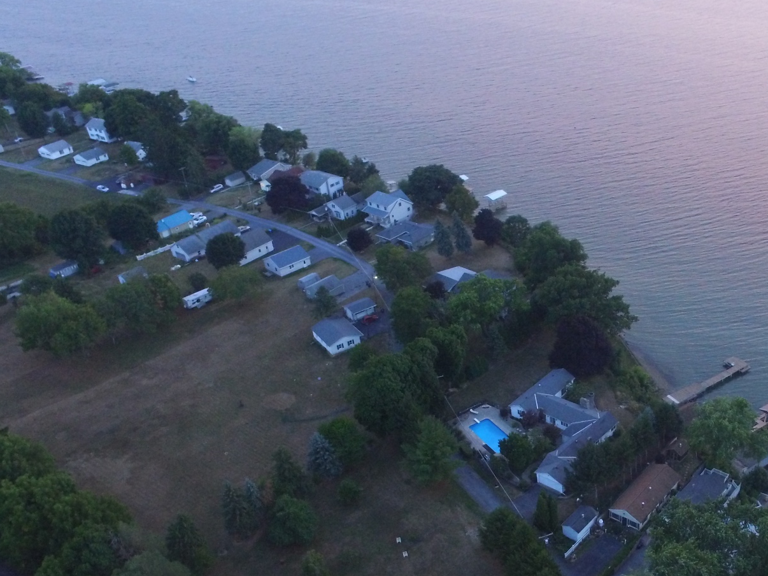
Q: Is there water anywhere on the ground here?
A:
Yes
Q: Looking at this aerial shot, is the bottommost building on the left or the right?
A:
right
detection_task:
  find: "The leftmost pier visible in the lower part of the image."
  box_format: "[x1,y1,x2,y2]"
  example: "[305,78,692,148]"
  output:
[664,359,750,405]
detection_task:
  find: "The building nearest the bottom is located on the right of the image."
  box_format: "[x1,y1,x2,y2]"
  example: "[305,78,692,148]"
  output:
[561,508,600,545]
